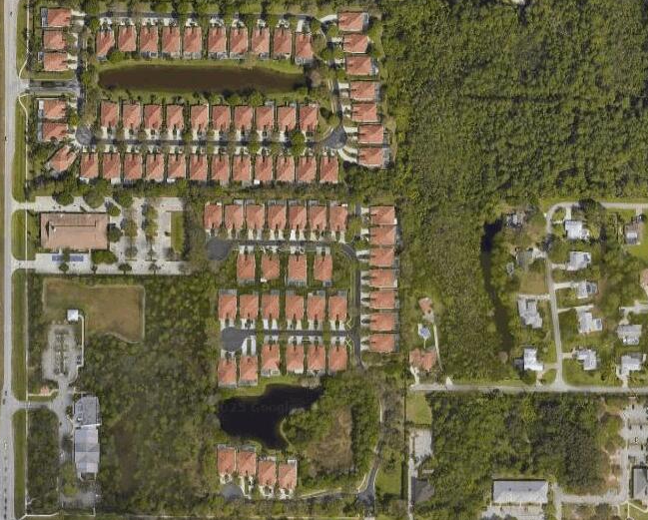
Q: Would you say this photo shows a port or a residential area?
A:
residential area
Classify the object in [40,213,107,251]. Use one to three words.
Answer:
building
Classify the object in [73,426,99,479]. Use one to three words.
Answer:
building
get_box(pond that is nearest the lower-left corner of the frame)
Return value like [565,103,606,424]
[220,384,324,449]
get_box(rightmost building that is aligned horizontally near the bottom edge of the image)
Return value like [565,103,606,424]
[495,480,549,502]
